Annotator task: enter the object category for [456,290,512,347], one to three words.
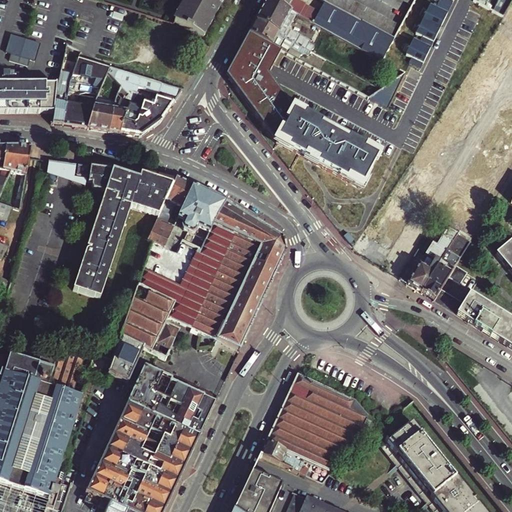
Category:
building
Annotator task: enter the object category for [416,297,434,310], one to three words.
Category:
vehicle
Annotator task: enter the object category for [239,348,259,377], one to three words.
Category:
bus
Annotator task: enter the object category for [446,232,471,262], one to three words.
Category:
house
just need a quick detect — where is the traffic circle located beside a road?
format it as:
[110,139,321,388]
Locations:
[276,252,372,348]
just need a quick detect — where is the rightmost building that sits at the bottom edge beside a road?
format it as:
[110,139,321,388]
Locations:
[434,472,490,512]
